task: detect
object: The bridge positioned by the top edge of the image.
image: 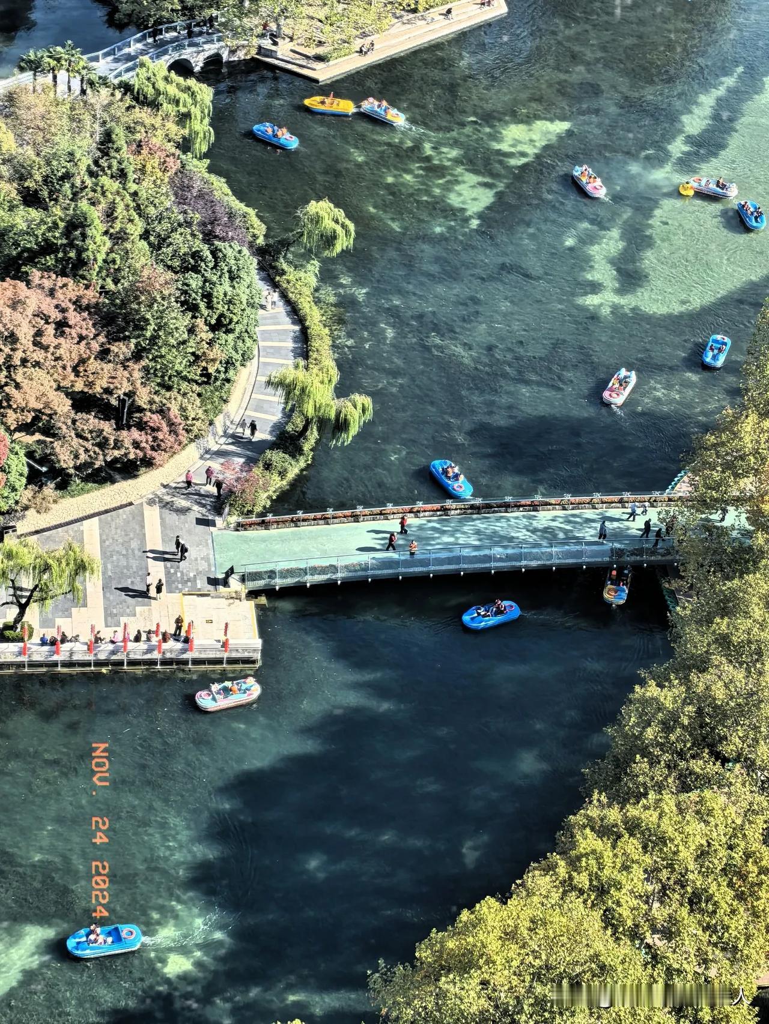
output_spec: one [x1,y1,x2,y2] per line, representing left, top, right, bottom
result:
[82,15,270,79]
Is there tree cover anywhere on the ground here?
Yes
